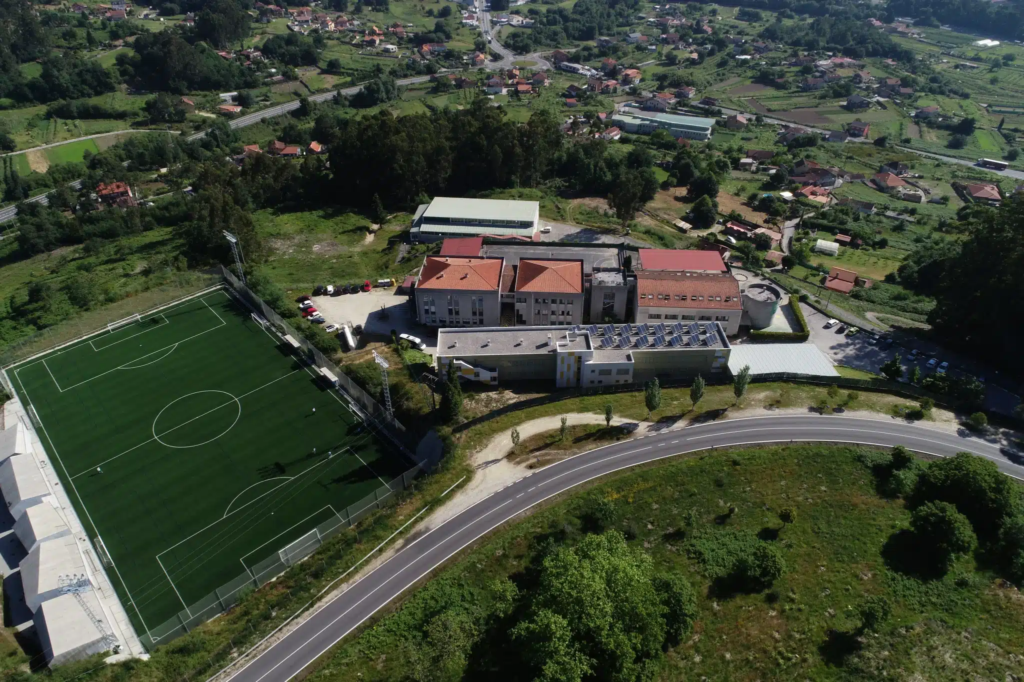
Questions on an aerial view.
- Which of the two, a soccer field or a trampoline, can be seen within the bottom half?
soccer field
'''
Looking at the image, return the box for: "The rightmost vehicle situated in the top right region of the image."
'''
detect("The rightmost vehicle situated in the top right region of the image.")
[979,154,1013,170]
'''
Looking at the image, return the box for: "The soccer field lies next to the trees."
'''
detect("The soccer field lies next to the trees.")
[3,282,435,660]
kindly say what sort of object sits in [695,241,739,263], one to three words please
house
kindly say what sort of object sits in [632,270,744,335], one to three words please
building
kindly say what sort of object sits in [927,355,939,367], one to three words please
vehicle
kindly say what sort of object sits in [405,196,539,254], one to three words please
building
